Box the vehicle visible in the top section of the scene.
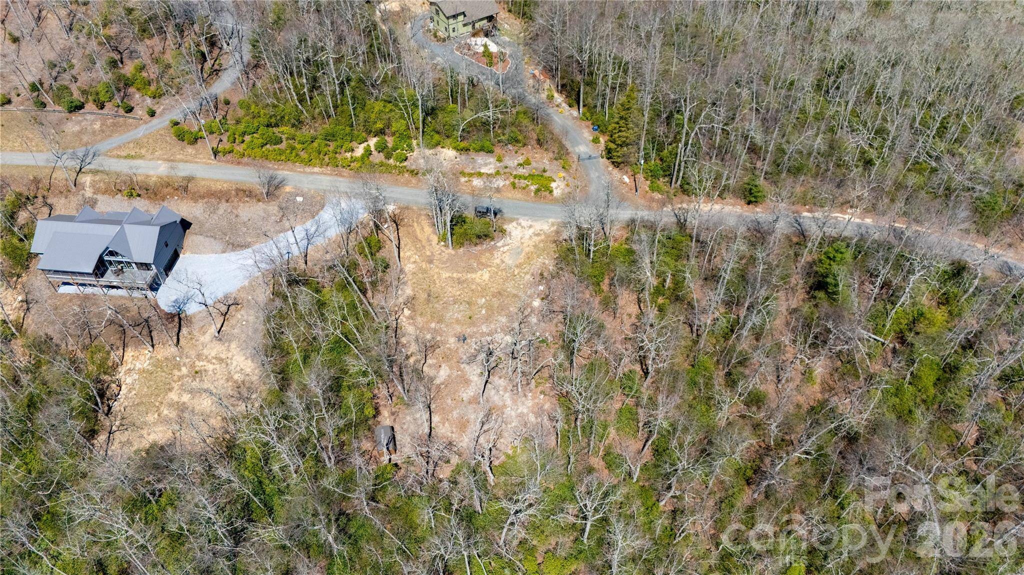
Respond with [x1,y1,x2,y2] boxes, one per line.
[474,203,498,217]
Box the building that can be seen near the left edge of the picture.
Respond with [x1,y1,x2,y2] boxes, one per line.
[28,203,187,298]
